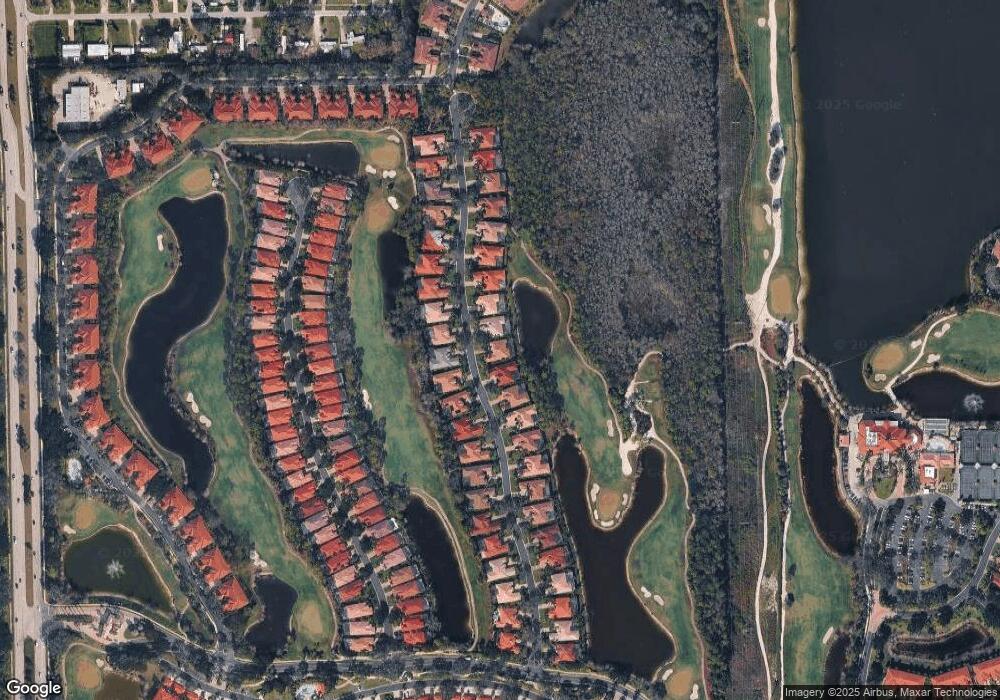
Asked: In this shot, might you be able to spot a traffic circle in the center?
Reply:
No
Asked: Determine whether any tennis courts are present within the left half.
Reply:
No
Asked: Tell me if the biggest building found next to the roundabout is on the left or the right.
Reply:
right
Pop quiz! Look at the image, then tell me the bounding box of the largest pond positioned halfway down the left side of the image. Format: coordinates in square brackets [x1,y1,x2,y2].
[125,191,229,493]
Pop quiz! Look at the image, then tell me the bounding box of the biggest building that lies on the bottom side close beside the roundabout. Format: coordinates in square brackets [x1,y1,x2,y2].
[859,421,927,462]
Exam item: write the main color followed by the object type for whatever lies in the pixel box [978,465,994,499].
gray tennis court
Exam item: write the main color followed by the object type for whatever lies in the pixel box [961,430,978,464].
gray tennis court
